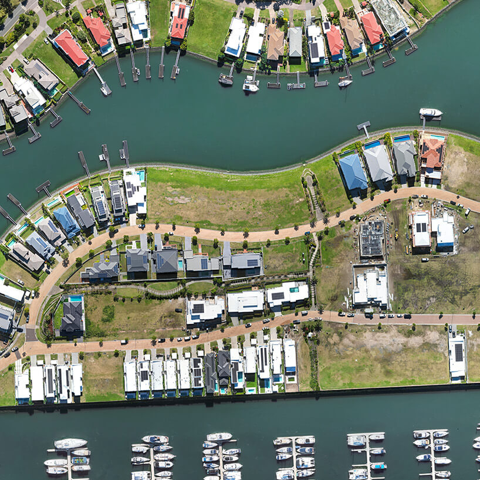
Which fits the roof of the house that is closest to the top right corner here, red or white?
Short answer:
red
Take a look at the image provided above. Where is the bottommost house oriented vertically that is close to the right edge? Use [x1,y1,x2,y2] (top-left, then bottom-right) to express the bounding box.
[449,338,465,377]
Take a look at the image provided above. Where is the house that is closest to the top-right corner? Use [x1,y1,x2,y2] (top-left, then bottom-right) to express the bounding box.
[360,11,385,46]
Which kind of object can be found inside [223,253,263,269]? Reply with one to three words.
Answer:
house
